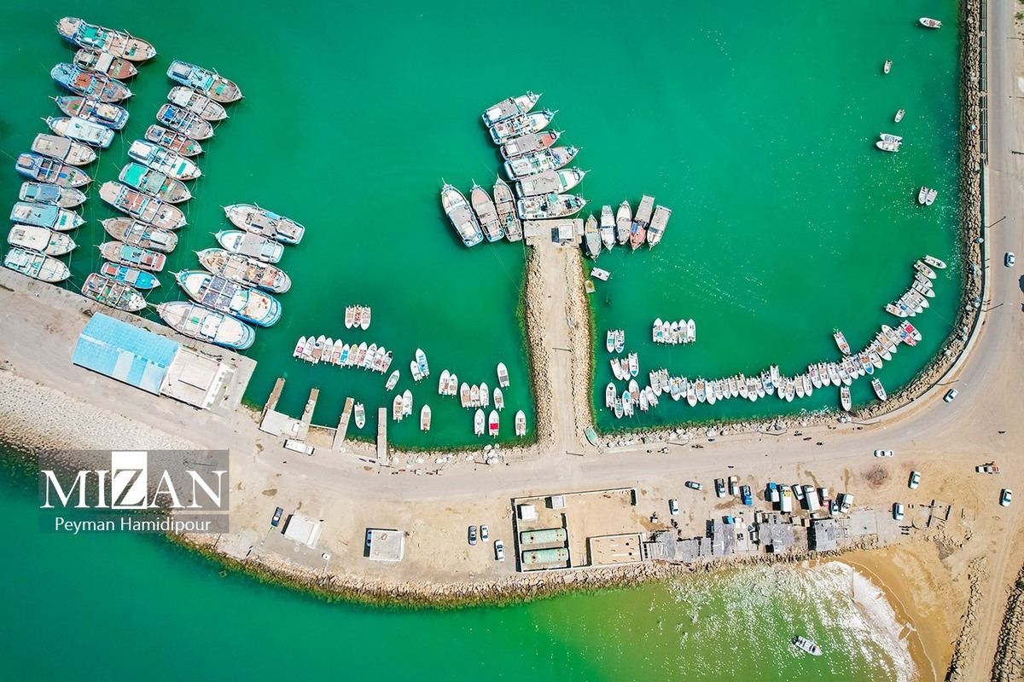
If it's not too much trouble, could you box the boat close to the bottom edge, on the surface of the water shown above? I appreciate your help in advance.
[794,637,822,655]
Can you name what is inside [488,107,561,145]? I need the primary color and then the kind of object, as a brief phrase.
white boat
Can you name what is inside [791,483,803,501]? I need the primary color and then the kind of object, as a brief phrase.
white vehicle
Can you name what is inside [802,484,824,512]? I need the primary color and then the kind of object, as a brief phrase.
white truck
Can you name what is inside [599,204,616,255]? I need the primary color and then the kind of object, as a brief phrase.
white boat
